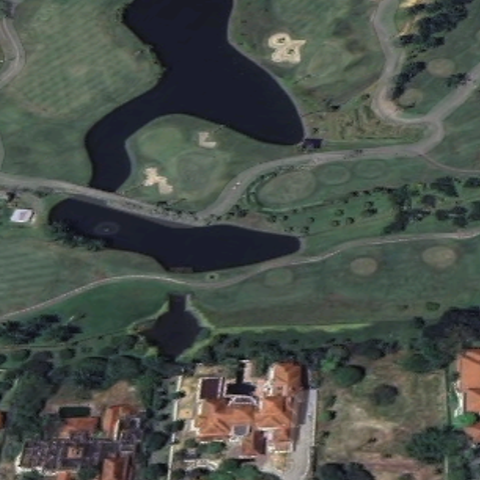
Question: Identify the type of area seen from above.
golf course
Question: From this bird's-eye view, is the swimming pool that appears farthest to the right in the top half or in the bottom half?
bottom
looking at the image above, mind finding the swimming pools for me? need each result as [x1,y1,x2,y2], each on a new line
[226,366,258,396]
[56,404,94,419]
